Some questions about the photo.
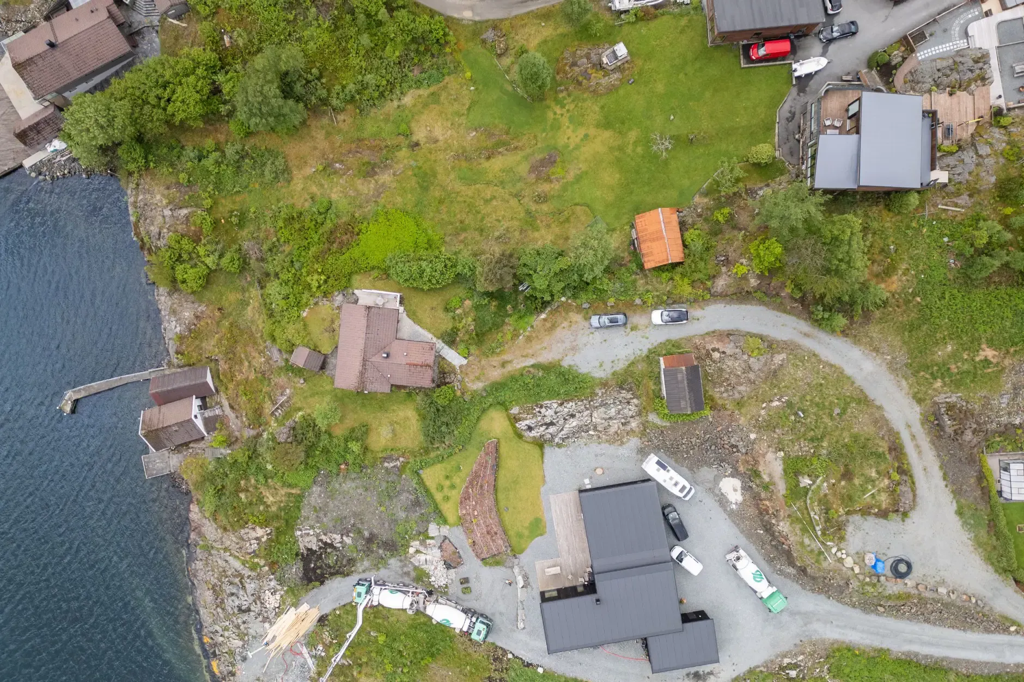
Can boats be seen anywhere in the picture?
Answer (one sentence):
Yes, a boat can be made out from above.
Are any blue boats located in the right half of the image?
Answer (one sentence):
No, there's no blue boat to be seen in the right half of the image.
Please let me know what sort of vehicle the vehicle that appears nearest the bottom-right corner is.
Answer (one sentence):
It turns out the vehicle that appears nearest the bottom-right corner is a truck.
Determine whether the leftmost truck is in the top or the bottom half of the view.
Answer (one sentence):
The leftmost truck is in the bottom half of the image.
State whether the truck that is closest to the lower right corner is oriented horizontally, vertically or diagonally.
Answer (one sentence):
The truck that is closest to the lower right corner runs diagonally in the image.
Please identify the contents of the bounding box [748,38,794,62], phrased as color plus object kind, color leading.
red vehicle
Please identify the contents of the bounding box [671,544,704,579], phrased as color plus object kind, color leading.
white van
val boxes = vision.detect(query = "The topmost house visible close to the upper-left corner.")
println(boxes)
[146,0,203,40]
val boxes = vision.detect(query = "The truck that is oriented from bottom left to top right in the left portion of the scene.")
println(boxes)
[317,574,435,682]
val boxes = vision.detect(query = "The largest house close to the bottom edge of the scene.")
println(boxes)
[539,479,720,674]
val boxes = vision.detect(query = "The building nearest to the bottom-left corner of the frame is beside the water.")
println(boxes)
[141,397,211,453]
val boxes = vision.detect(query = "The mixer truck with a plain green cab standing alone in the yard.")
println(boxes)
[725,546,792,617]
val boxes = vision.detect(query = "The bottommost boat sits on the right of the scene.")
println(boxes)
[789,55,834,79]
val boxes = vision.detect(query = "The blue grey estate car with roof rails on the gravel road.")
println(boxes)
[589,311,628,329]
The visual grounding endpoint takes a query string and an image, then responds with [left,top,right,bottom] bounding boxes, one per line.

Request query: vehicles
[662,503,690,544]
[589,311,628,329]
[317,574,435,682]
[650,307,689,326]
[816,20,860,45]
[423,593,497,645]
[725,546,792,617]
[671,544,704,579]
[640,453,691,499]
[748,38,794,62]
